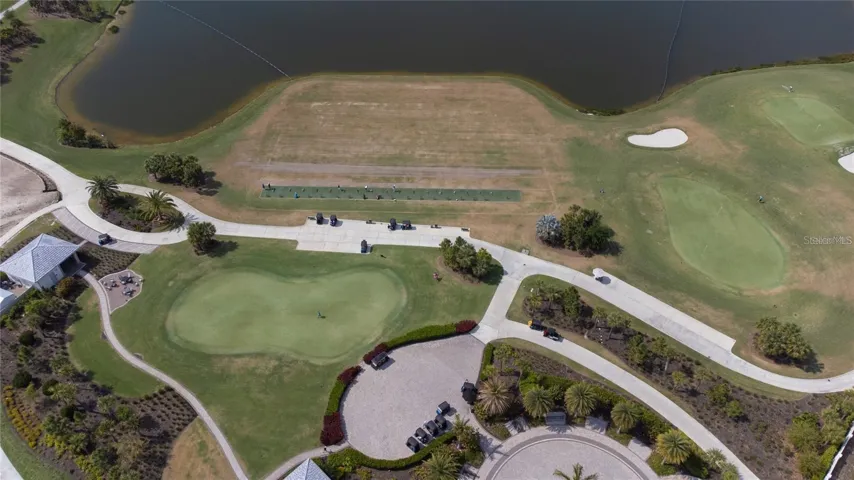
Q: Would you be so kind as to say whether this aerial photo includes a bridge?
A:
No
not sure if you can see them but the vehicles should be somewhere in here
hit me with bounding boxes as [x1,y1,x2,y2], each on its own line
[94,233,111,246]
[528,316,544,332]
[374,352,389,369]
[424,420,440,440]
[463,380,477,408]
[315,210,324,223]
[329,213,337,227]
[359,240,368,254]
[544,324,560,341]
[435,400,453,416]
[434,413,449,432]
[414,428,430,447]
[405,436,421,456]
[389,217,397,230]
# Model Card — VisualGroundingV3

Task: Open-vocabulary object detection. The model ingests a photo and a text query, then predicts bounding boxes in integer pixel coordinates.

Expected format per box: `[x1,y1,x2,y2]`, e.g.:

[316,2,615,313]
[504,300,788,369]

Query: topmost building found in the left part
[0,231,83,293]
